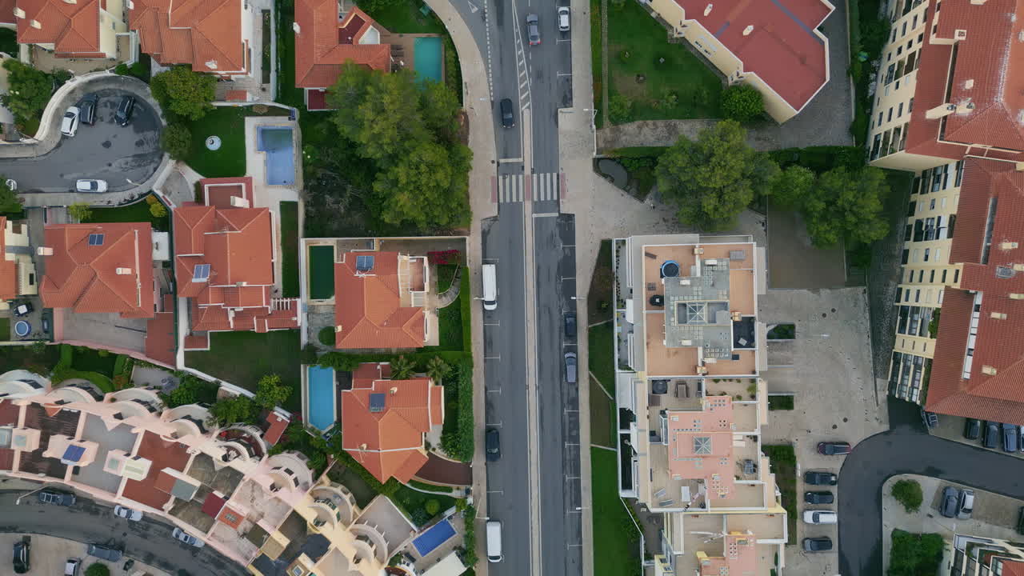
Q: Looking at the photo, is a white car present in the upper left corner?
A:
Yes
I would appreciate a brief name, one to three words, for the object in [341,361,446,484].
house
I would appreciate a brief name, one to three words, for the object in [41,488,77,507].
car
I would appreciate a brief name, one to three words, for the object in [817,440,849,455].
car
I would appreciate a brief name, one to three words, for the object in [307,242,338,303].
swimming pool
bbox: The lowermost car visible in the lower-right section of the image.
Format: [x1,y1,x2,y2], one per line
[802,536,831,551]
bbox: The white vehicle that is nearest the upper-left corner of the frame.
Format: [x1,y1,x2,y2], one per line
[64,107,82,137]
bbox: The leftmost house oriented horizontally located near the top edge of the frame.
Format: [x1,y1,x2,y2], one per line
[13,0,144,73]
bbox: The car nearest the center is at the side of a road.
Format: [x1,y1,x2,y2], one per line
[481,264,499,309]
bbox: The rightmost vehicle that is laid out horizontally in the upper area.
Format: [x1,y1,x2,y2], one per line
[78,178,109,193]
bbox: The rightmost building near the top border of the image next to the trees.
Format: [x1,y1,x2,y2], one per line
[869,0,1024,171]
